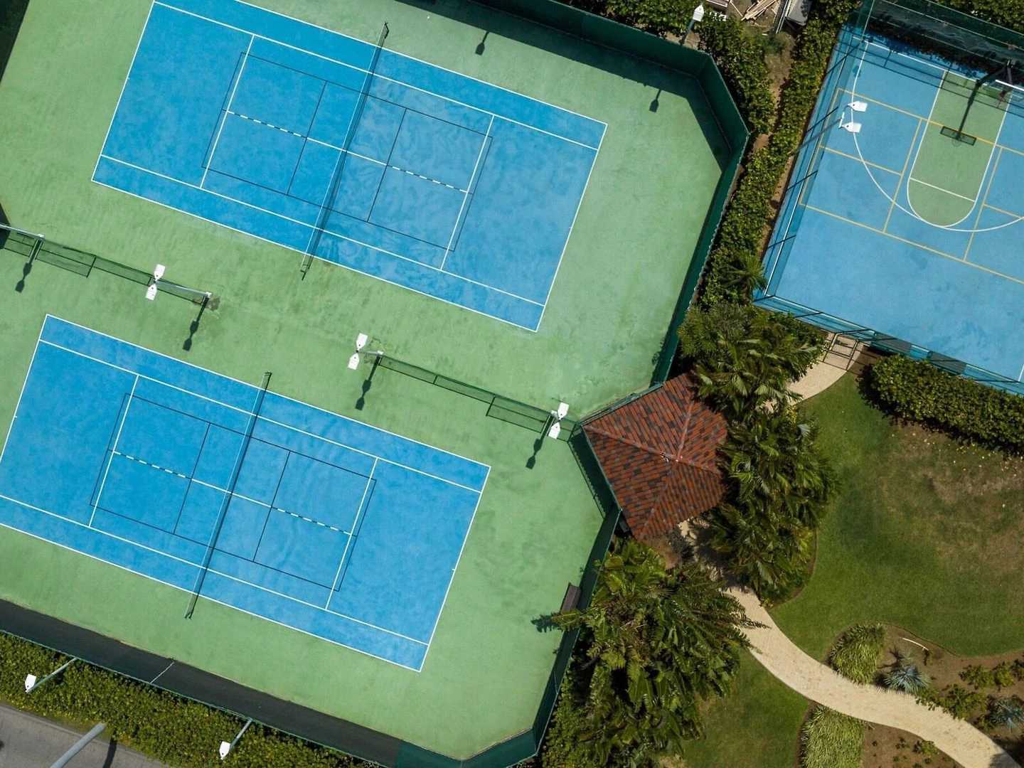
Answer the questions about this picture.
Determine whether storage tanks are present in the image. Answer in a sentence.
No, no storage tank can be seen from above.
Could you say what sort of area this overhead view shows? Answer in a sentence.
The area seen from above is a sports ground.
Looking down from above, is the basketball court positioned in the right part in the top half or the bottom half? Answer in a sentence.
The top half of the photo is where the basketball court positioned in the right part is.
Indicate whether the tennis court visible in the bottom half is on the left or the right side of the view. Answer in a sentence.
The tennis court visible in the bottom half sits on the left side.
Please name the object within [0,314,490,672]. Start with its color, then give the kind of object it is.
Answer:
blue tennis court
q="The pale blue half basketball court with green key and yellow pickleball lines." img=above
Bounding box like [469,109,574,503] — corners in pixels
[747,20,1024,400]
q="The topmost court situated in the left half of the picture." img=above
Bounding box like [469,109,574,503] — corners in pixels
[92,0,607,332]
